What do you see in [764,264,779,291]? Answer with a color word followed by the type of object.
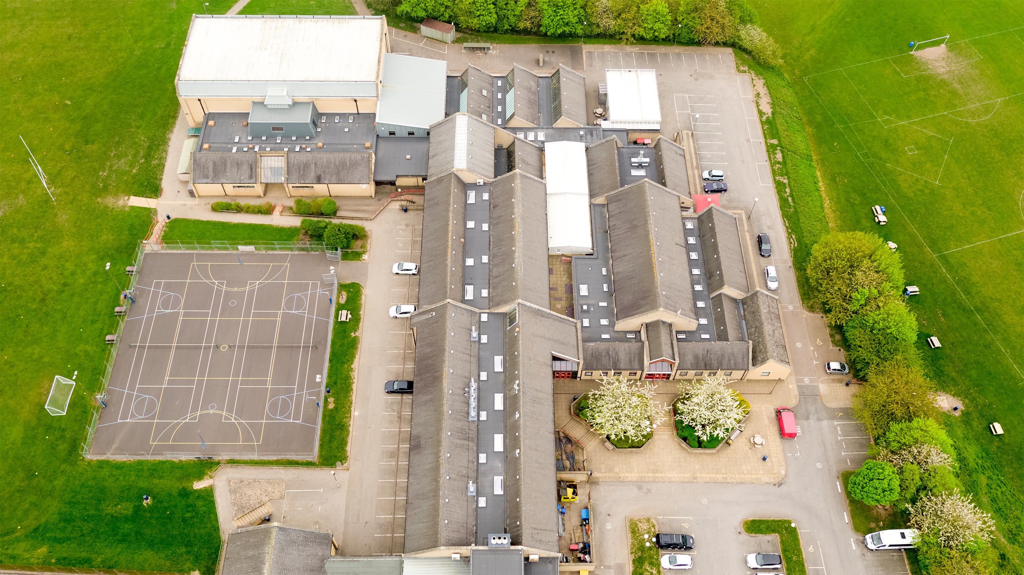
white car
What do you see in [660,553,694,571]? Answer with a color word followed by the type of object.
white car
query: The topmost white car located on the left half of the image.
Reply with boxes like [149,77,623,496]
[392,262,419,277]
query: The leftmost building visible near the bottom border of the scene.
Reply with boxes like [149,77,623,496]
[221,524,339,575]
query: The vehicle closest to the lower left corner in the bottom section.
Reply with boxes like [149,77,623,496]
[385,379,413,396]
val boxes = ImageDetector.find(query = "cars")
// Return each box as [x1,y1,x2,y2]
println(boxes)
[703,181,728,193]
[747,552,782,570]
[764,264,779,291]
[385,379,413,396]
[392,262,419,277]
[654,533,695,552]
[824,361,849,375]
[389,304,416,319]
[702,170,725,182]
[757,232,772,257]
[660,553,694,571]
[755,570,787,575]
